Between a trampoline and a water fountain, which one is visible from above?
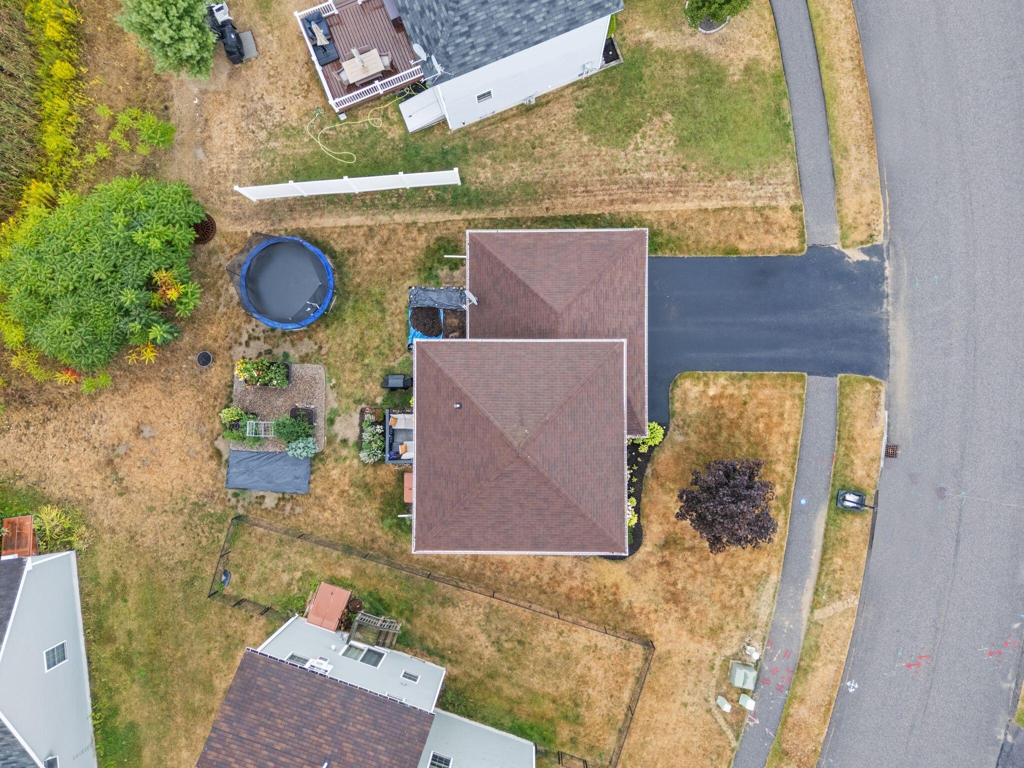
trampoline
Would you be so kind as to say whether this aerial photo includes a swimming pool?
No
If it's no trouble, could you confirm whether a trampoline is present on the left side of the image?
Yes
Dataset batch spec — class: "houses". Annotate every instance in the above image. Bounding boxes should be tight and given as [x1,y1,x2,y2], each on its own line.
[398,229,649,555]
[191,579,535,768]
[0,516,97,768]
[394,0,624,134]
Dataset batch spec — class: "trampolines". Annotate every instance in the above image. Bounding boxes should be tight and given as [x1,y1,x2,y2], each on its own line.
[224,231,341,333]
